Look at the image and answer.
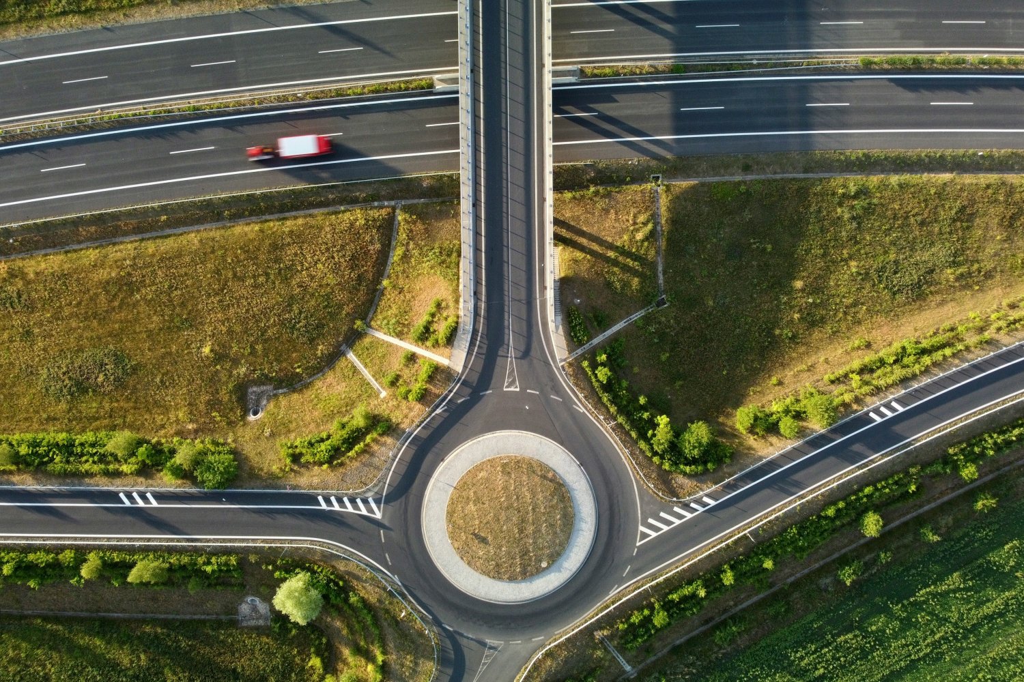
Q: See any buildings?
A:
No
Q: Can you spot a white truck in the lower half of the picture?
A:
No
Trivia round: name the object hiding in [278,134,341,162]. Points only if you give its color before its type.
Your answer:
white truck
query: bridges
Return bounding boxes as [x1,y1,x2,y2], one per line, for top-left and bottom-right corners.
[458,0,559,362]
